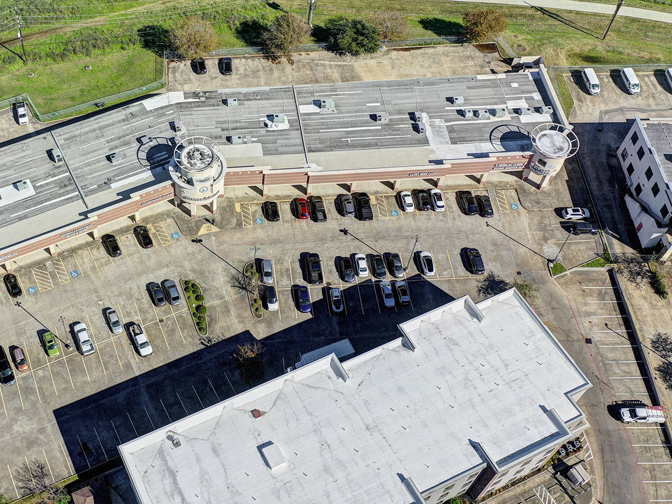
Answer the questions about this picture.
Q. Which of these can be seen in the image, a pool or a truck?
truck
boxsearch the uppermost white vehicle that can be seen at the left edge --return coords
[13,100,29,125]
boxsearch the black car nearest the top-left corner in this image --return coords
[194,58,208,78]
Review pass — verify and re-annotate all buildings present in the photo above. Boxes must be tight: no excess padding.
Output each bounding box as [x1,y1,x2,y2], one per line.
[614,116,672,260]
[118,288,592,504]
[0,64,578,270]
[72,487,113,504]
